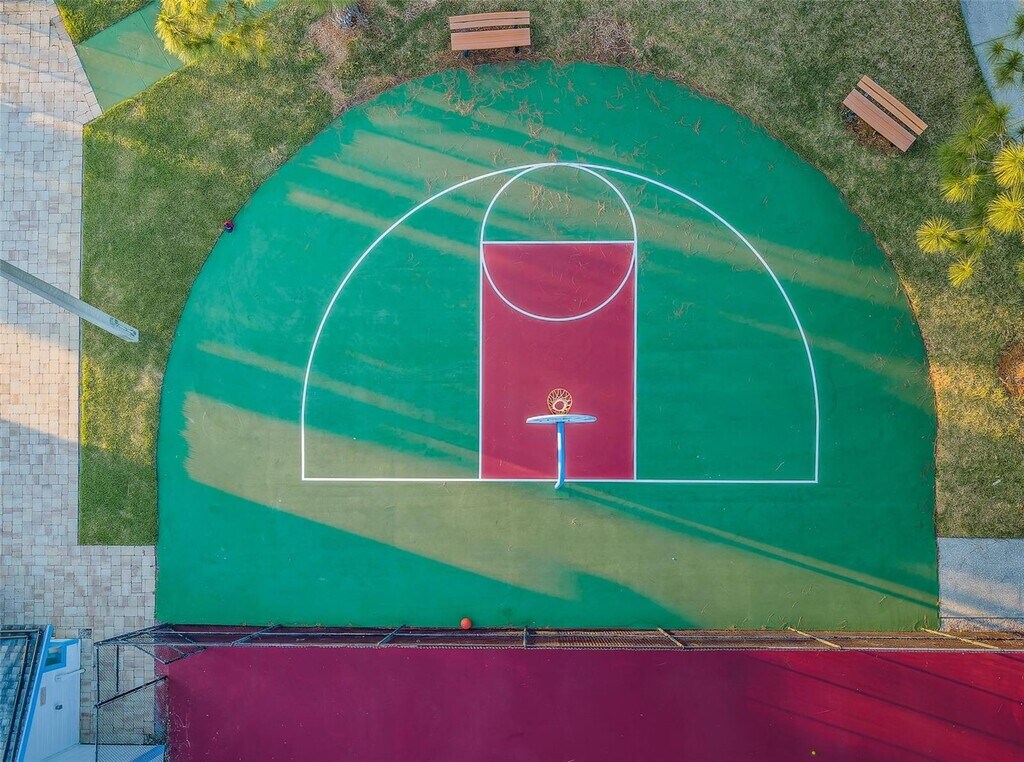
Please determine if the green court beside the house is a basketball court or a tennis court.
basketball court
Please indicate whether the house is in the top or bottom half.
bottom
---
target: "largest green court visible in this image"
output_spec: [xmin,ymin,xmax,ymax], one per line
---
[155,60,941,627]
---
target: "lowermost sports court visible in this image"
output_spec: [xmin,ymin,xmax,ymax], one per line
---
[153,628,1024,762]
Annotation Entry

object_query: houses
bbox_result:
[0,623,163,762]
